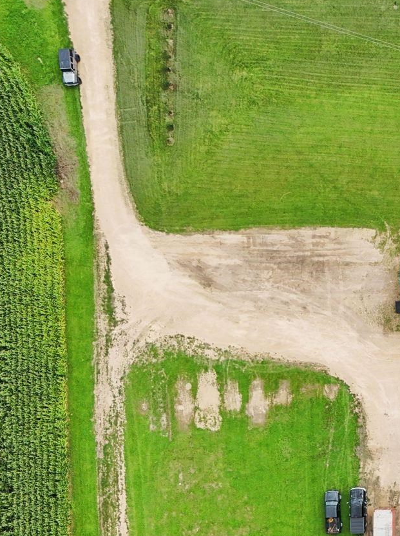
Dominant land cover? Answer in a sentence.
The bulk of the photo consists of grass.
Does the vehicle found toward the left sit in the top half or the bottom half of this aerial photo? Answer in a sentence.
Seen from above, the vehicle found toward the left lies in the top half of the view.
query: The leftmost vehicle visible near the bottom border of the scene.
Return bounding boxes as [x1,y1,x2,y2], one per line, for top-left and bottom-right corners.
[325,488,343,535]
